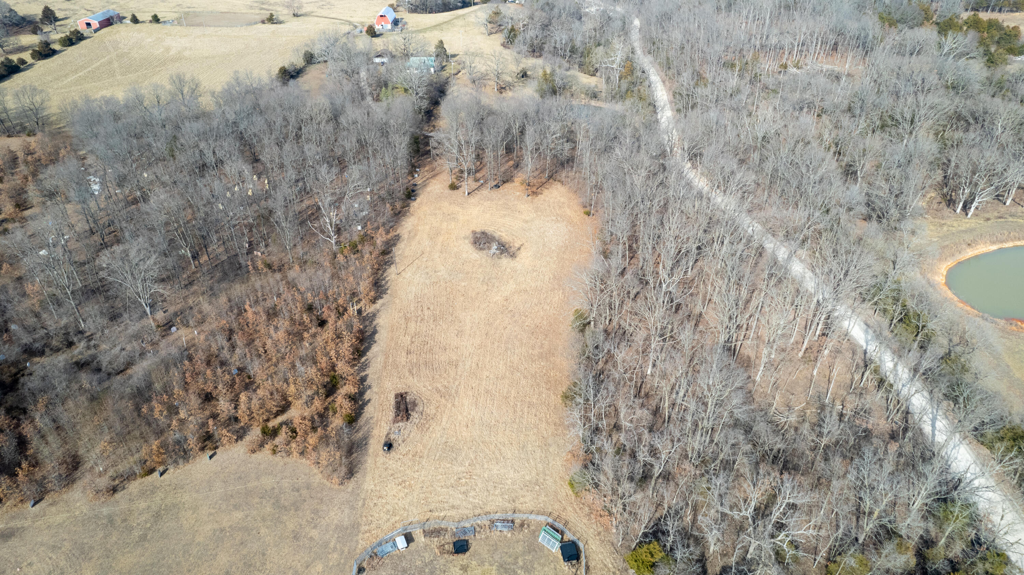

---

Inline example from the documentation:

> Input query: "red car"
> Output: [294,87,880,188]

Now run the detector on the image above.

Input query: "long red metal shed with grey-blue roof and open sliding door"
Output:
[76,8,114,36]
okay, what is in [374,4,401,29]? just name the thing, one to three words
barn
